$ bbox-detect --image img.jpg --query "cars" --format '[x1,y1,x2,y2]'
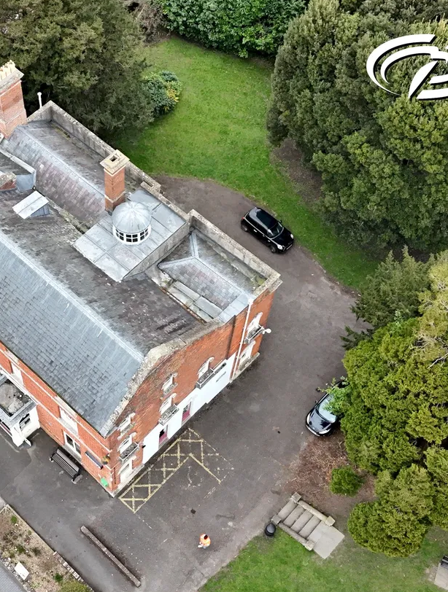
[237,206,292,252]
[303,375,357,438]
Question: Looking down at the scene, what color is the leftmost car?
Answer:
black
